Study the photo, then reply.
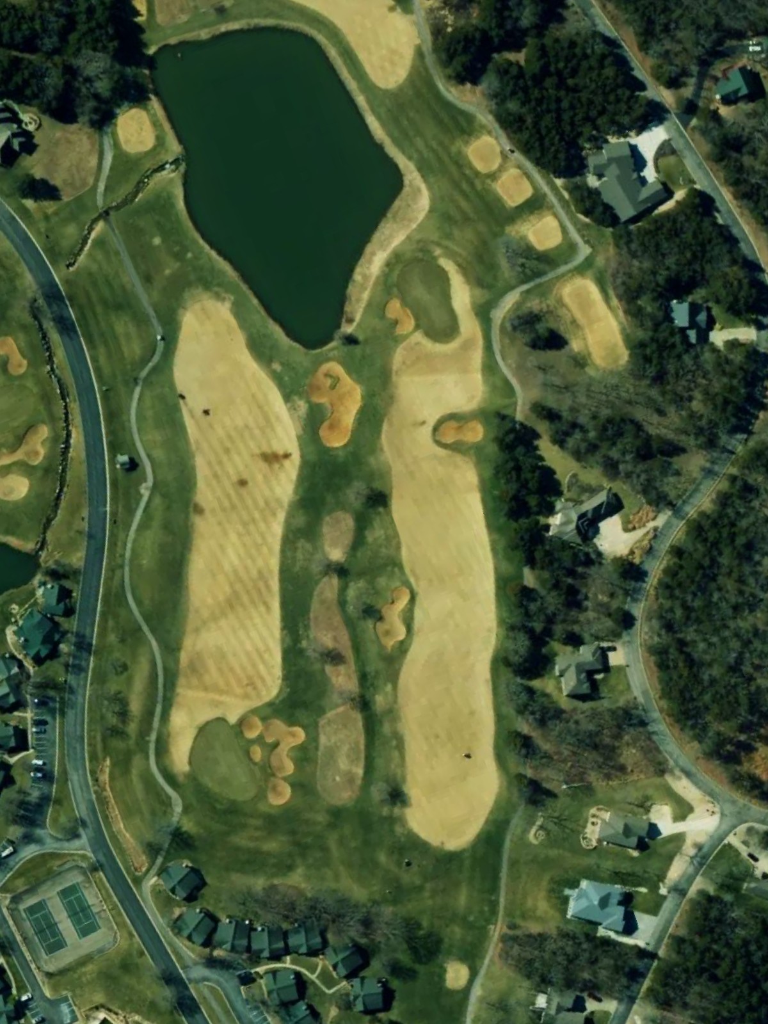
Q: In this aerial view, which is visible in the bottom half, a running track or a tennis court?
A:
tennis court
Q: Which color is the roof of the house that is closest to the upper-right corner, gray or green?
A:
green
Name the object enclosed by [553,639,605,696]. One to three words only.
house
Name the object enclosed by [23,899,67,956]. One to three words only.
tennis court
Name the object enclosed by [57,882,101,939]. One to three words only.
tennis court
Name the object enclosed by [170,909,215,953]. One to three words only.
building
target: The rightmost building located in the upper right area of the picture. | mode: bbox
[717,64,758,105]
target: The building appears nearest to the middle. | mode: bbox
[553,487,619,547]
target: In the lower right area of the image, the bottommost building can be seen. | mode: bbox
[542,987,588,1024]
